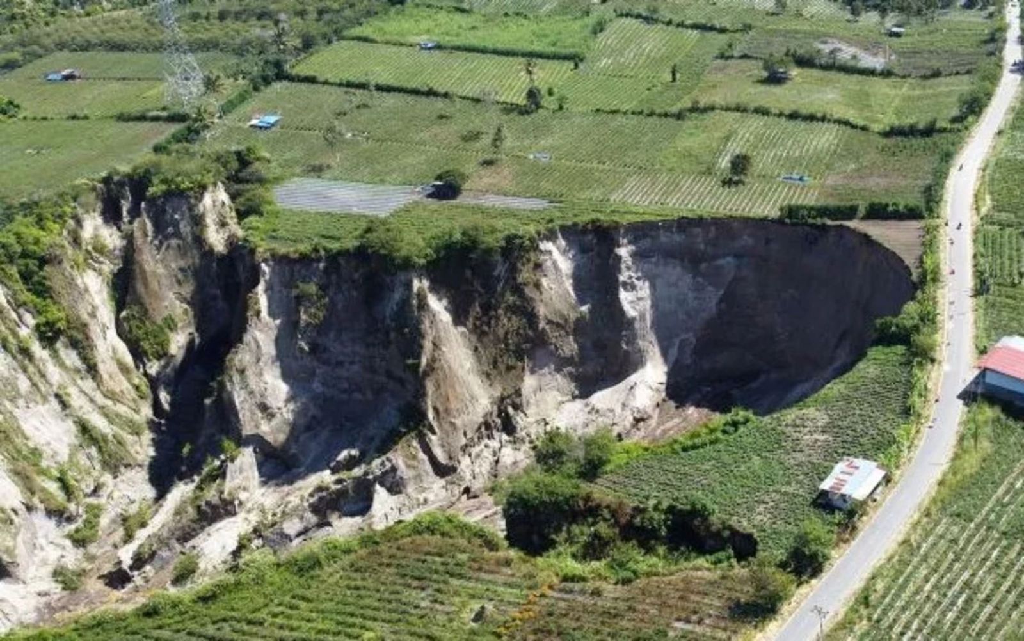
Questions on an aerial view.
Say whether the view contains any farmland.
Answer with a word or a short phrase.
Yes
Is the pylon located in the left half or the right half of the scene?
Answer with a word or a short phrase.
left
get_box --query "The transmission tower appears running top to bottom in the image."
[161,0,210,108]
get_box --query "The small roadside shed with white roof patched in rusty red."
[819,459,884,517]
